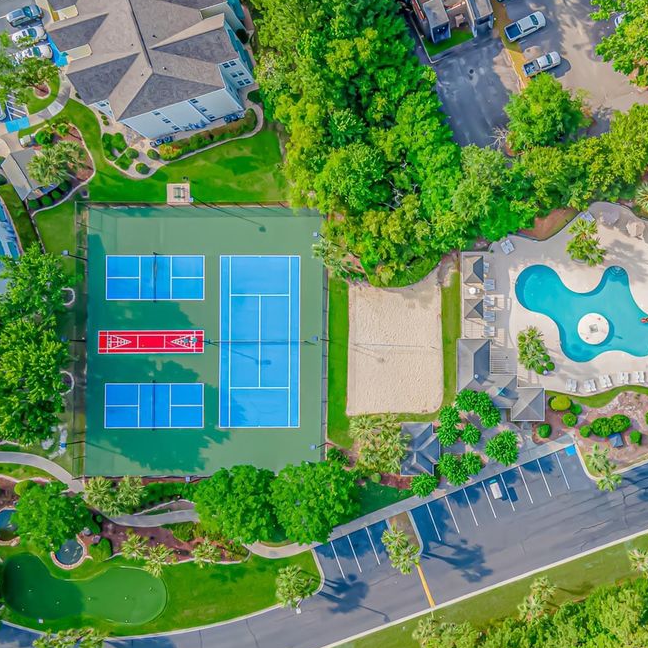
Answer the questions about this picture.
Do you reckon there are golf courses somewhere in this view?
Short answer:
Yes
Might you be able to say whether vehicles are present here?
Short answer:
Yes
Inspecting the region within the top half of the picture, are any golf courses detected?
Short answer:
No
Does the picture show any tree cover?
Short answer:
Yes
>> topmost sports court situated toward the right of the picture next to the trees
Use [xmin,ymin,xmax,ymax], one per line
[347,261,455,416]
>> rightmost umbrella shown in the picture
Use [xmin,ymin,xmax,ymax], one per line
[626,219,645,237]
